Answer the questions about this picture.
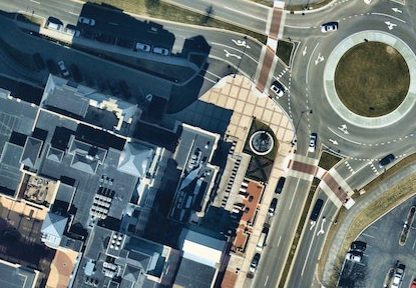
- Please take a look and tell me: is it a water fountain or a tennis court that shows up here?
water fountain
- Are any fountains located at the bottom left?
No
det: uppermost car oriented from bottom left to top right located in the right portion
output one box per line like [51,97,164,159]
[378,154,395,168]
